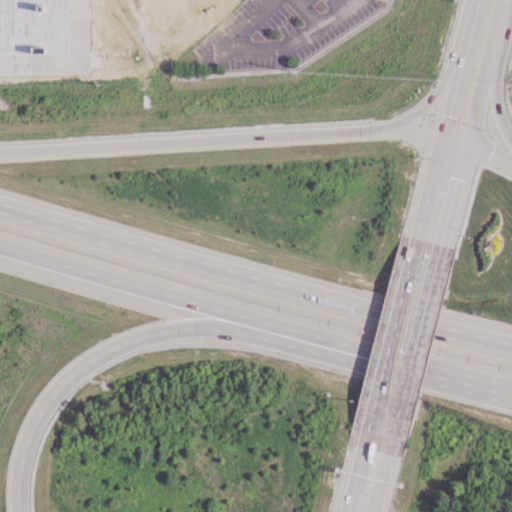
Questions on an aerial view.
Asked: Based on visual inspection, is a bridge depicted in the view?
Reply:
Yes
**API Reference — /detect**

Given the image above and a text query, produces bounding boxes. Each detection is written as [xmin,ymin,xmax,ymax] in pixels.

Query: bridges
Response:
[346,237,456,458]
